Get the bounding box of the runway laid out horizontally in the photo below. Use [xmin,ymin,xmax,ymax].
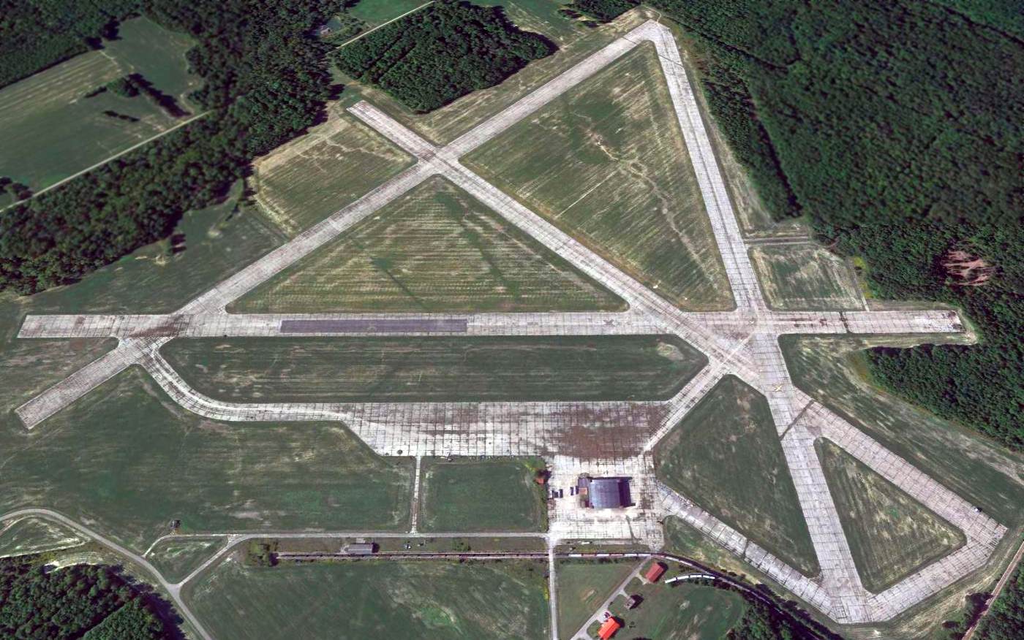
[18,295,966,349]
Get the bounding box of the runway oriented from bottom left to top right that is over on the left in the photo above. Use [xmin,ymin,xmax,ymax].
[15,20,652,429]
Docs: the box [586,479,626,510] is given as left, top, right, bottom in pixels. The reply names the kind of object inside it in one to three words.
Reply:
hangar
